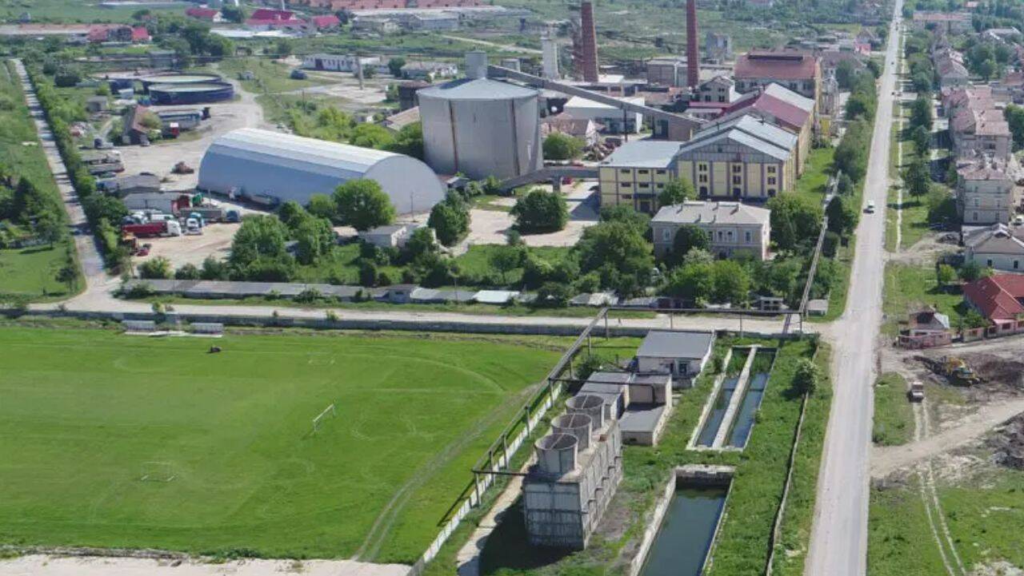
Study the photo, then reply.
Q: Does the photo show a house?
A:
Yes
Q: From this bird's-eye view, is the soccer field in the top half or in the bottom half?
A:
bottom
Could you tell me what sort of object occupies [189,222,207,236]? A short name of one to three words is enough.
vehicle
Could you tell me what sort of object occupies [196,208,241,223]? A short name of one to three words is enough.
vehicle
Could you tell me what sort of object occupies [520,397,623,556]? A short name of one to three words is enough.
cooling tower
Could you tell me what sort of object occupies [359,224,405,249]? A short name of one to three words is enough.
shed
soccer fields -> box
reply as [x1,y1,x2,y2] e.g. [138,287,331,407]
[0,327,570,568]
